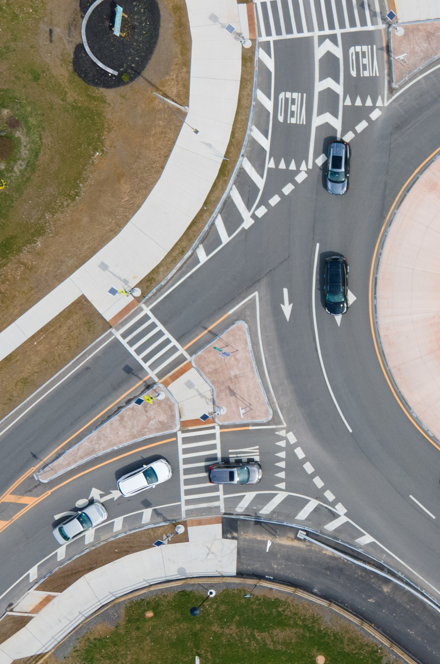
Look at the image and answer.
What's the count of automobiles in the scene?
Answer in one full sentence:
Altogether the scene contains 5 automobiles.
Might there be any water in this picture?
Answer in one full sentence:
No, the scene doesn't show any water.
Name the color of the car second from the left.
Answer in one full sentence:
The car second from the left looks white in the image.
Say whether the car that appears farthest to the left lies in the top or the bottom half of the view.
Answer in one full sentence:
Seen from above, the car that appears farthest to the left lies in the bottom half of the view.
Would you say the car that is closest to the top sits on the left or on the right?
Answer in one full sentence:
The car that is closest to the top is on the right side of the image.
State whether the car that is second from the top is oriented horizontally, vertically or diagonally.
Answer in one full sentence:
The car that is second from the top has been laid out vertically relative to the frame.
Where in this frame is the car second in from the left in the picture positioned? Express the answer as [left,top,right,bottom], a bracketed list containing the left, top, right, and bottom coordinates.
[116,458,175,498]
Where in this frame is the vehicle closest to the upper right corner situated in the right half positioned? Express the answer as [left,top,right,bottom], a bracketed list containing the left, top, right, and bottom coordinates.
[323,140,352,196]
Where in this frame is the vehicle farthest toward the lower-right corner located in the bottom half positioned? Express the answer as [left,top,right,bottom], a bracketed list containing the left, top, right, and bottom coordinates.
[206,459,264,488]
